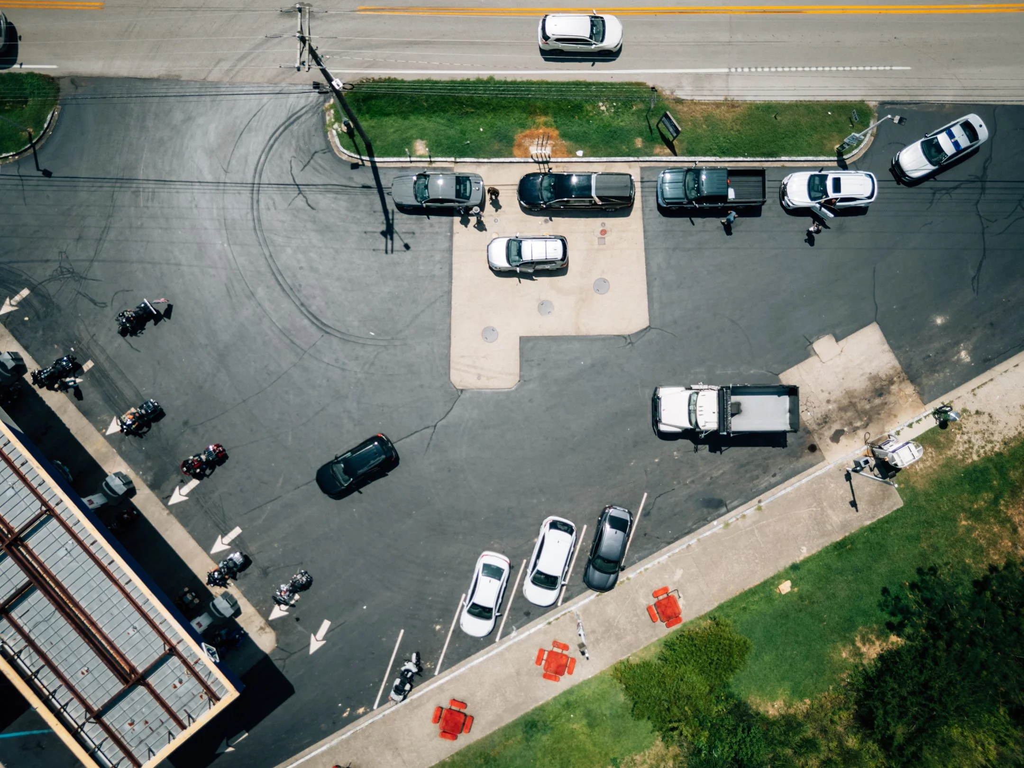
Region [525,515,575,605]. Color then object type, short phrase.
white car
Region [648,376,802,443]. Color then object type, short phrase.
white truck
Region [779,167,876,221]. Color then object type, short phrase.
white car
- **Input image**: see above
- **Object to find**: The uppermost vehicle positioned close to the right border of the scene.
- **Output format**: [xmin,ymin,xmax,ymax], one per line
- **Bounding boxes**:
[889,117,987,186]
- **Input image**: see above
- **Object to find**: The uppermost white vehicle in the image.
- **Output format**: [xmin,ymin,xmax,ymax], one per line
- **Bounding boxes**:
[538,9,622,56]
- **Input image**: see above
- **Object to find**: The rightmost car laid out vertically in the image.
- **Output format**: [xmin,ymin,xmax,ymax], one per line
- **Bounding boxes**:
[584,503,630,590]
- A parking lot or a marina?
parking lot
